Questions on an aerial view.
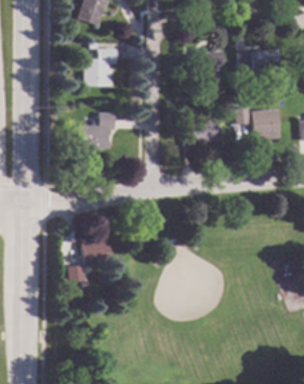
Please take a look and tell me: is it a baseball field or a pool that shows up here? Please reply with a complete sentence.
This aerial view contains a baseball field.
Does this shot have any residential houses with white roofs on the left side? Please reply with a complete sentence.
Yes, there is a residential house with a white roof on the left side.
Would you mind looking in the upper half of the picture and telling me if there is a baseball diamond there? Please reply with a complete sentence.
No, I see no baseball diamond in the upper half of the picture.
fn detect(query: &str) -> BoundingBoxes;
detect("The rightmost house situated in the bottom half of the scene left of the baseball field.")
[82,241,113,260]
